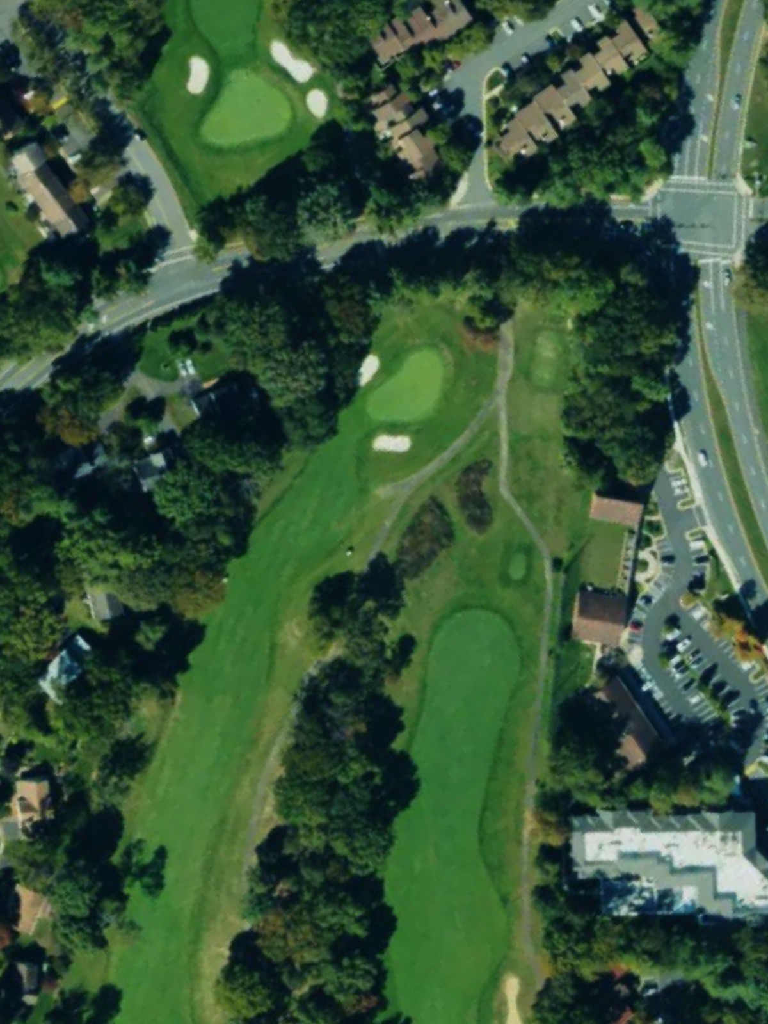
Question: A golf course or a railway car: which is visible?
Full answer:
Looking from above, you can make out a golf course.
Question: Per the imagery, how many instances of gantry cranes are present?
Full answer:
I count no gantry cranes.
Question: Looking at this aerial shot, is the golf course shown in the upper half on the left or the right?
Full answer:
The golf course shown in the upper half sits on the left side.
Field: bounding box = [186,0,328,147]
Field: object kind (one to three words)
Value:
golf course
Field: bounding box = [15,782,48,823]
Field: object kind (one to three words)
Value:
house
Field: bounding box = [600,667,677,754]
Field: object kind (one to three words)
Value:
building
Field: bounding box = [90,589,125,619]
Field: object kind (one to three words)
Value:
house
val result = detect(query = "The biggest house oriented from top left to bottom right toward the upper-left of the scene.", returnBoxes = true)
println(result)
[11,141,88,238]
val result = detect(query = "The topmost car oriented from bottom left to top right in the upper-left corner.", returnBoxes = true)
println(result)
[51,97,67,109]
